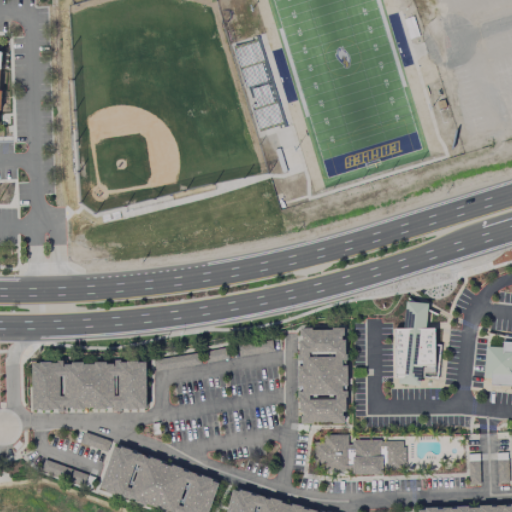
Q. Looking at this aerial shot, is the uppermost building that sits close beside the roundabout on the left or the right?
left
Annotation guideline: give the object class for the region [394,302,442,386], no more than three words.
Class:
building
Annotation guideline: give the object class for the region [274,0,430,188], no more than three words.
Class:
sports field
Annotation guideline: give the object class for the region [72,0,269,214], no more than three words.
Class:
baseball field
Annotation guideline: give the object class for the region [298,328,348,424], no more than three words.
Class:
building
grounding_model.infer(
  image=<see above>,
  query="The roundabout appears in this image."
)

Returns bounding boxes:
[0,407,23,448]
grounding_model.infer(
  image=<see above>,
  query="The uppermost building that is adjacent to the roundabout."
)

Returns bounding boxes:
[32,360,148,413]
